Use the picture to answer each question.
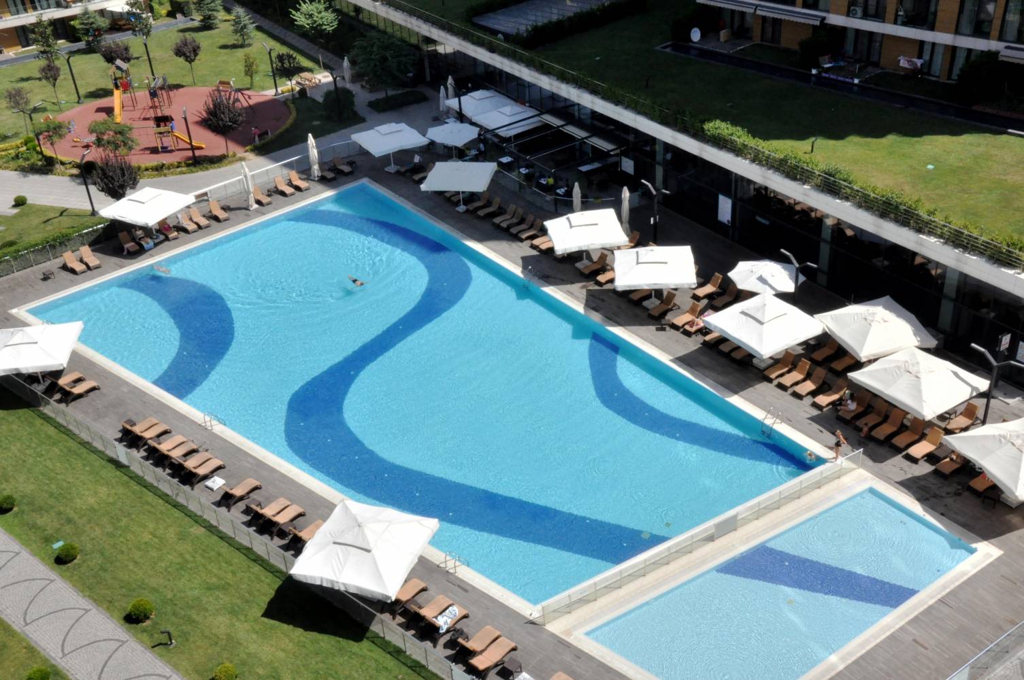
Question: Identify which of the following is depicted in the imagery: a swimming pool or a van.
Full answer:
I can see a swimming pool in this picture.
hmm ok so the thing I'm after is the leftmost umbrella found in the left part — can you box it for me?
[0,323,85,388]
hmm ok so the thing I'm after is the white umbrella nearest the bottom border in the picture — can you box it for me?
[291,507,439,603]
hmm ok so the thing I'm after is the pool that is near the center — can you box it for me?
[27,183,825,605]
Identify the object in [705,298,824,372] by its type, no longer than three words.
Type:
umbrella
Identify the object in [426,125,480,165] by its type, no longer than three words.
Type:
umbrella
